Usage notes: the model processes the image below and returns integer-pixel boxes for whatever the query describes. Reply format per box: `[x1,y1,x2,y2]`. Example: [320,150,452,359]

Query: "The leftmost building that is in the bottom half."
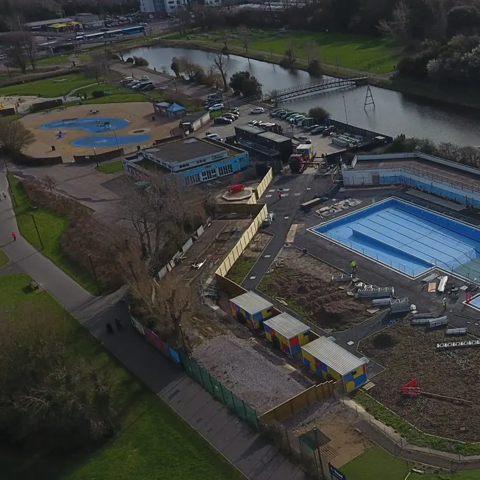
[229,290,274,332]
